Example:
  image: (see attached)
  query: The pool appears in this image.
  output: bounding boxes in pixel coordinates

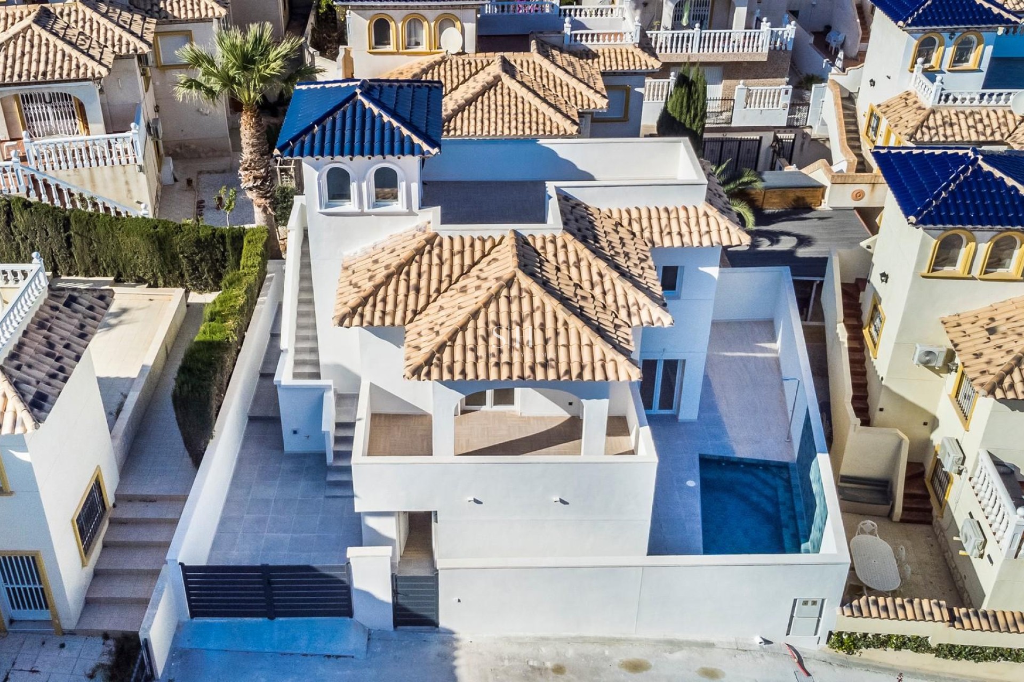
[699,458,795,545]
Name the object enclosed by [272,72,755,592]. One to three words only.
house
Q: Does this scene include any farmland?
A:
No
